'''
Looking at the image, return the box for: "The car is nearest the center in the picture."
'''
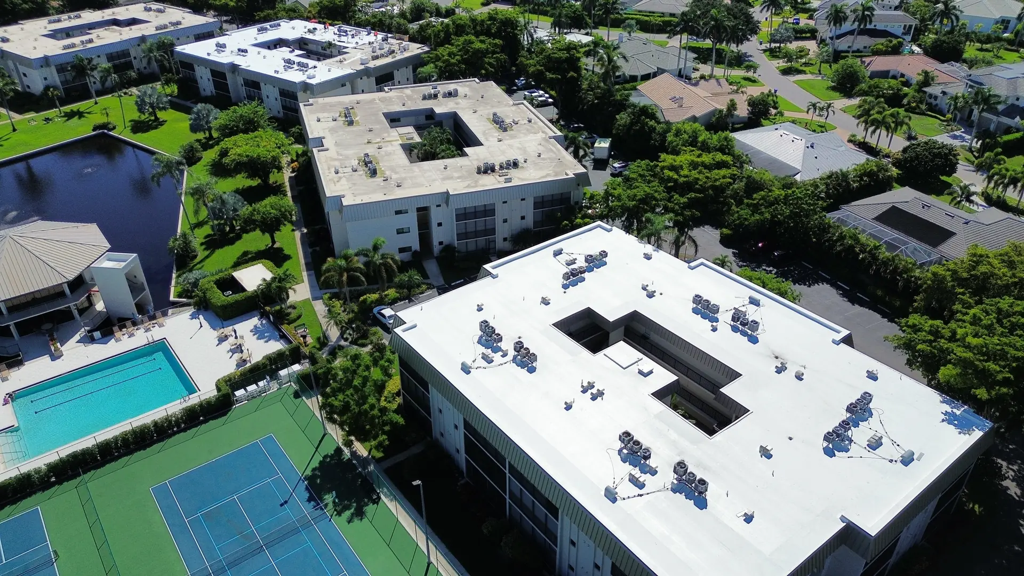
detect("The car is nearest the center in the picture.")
[368,303,398,327]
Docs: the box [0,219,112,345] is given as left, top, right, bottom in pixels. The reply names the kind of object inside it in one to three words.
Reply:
building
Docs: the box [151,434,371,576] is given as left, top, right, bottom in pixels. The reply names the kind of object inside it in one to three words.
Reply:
tennis court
